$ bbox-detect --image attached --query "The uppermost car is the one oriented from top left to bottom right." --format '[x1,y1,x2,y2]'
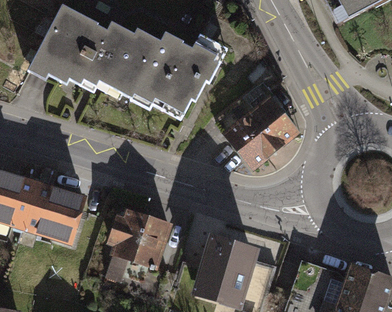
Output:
[279,90,297,111]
